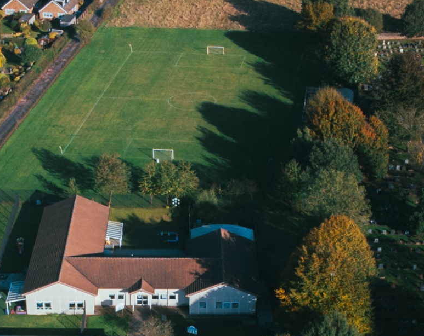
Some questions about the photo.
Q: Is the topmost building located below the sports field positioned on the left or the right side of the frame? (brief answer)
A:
left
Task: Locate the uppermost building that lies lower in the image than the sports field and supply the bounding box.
[5,194,260,314]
